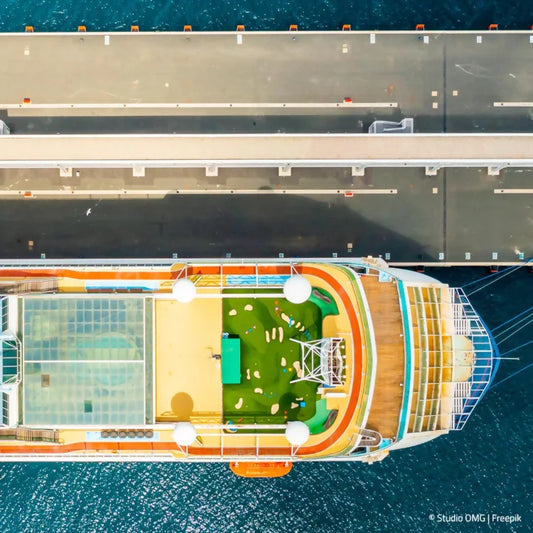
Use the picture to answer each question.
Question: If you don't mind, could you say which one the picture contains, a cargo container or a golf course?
golf course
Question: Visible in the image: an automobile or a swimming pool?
swimming pool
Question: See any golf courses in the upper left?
No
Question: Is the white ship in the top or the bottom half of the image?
bottom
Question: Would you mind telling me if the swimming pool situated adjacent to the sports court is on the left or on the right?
left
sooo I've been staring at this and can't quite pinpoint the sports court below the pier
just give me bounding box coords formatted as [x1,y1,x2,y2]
[155,289,223,423]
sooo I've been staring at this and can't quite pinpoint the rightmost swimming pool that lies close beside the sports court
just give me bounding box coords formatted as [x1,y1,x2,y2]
[70,336,142,385]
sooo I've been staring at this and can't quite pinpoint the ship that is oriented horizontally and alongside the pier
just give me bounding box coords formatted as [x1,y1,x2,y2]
[0,252,521,473]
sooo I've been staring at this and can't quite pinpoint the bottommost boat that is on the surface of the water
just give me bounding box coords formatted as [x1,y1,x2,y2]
[228,461,293,479]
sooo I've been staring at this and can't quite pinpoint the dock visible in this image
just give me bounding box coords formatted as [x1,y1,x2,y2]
[0,24,533,273]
